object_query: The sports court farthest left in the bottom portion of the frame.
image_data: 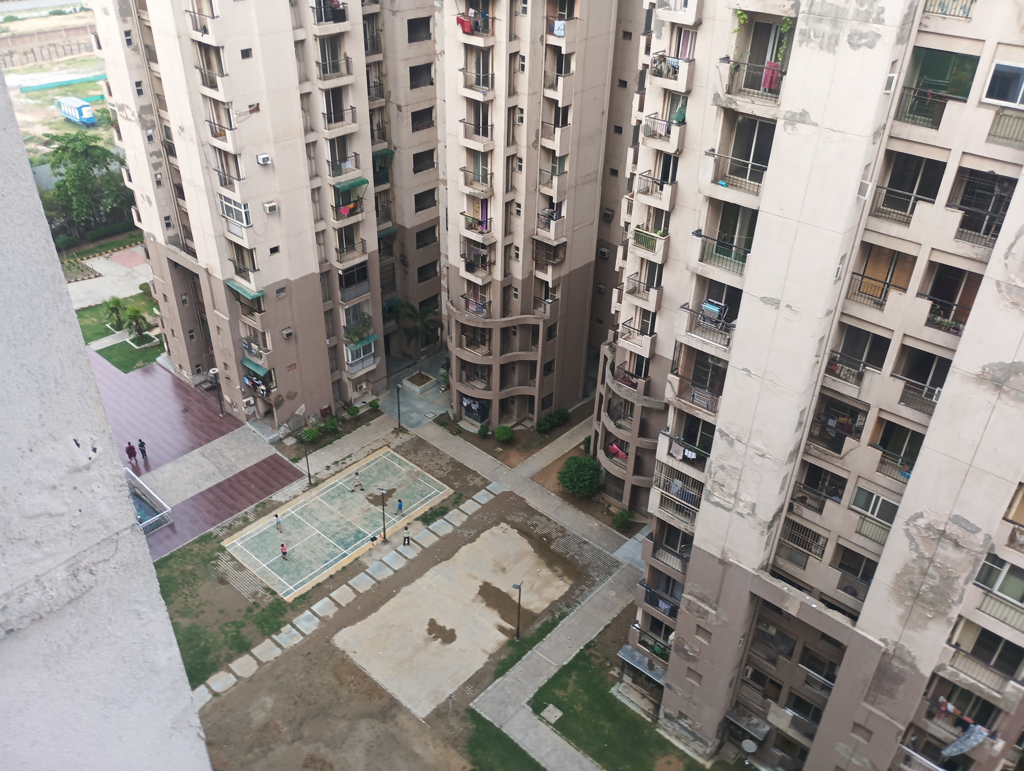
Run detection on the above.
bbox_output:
[227,449,449,596]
